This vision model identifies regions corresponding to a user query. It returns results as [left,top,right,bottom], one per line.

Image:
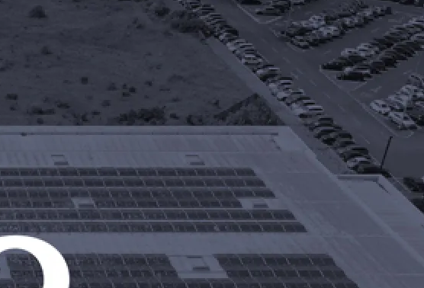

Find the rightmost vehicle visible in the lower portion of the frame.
[398,179,424,195]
